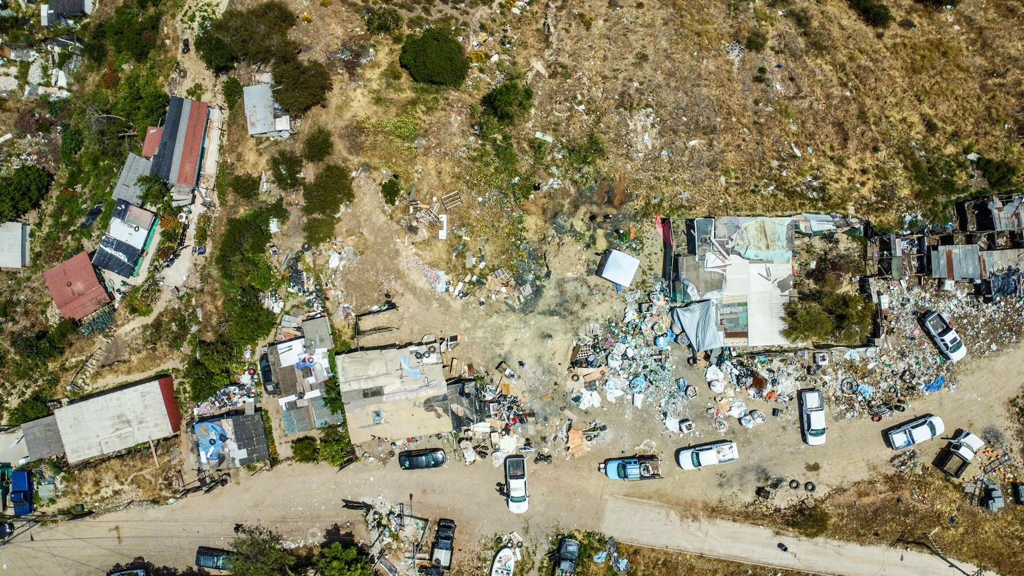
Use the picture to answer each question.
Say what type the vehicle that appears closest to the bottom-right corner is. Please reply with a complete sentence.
The vehicle that appears closest to the bottom-right corner can be classified as a truck.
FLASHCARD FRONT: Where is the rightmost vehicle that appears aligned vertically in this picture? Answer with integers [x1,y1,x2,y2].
[798,389,827,445]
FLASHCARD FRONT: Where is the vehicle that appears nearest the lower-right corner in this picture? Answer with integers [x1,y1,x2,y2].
[937,429,987,487]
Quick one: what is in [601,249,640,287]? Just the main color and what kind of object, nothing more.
white tent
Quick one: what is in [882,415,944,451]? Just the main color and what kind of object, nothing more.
white truck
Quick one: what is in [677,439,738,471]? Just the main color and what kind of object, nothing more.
white truck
